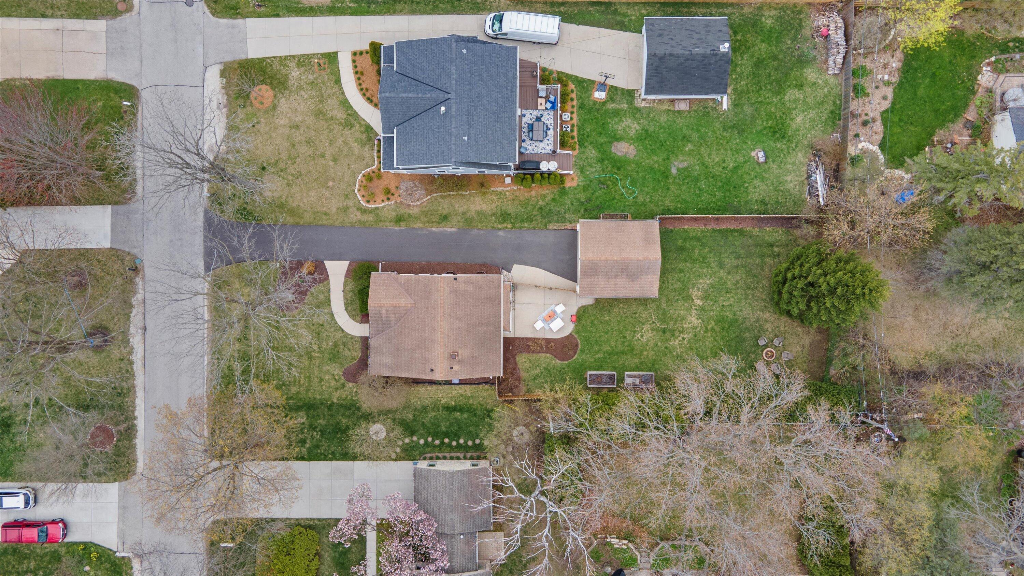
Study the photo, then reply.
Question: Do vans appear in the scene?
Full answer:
Yes, a van can be made out from above.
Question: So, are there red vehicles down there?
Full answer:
Yes, the picture does show a red vehicle.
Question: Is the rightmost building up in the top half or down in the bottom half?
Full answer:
The rightmost building sits in the top half of the picture.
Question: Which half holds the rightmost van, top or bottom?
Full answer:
The rightmost van sits in the top half of the picture.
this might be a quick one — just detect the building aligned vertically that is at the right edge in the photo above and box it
[990,106,1024,191]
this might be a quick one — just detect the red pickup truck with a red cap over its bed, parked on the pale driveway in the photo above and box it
[0,516,67,546]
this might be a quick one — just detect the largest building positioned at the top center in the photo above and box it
[378,33,521,178]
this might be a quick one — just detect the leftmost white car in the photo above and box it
[0,484,38,510]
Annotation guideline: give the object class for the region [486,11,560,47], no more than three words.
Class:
van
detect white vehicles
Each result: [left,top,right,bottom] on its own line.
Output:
[0,484,38,510]
[486,11,560,47]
